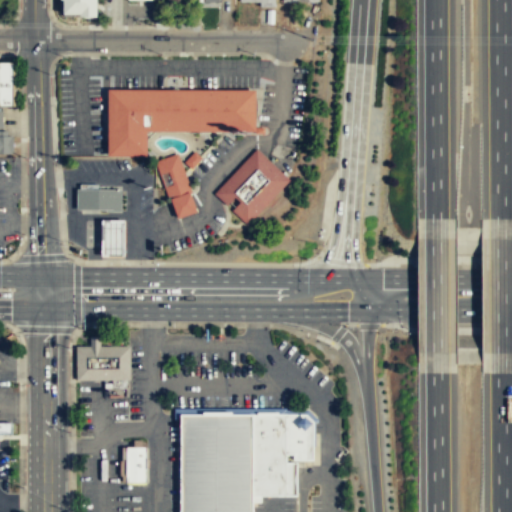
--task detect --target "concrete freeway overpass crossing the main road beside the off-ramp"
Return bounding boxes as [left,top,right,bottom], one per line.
[417,217,458,375]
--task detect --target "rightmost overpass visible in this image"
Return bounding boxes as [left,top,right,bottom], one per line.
[483,217,512,375]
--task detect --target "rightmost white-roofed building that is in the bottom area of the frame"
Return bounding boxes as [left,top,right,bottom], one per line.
[174,408,319,512]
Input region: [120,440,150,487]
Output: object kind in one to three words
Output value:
building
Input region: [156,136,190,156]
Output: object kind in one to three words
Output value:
swimming pool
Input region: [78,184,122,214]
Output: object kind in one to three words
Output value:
building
